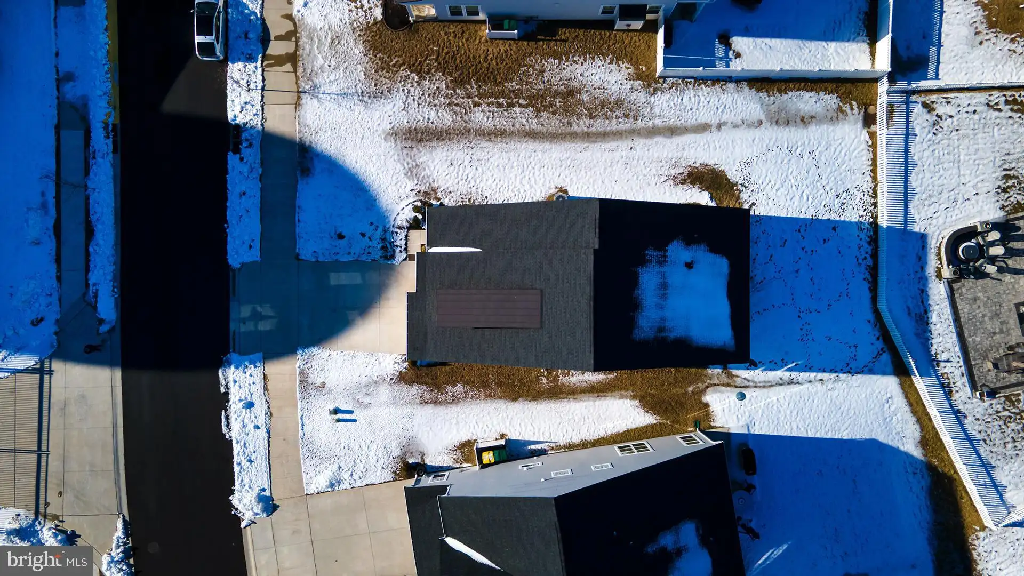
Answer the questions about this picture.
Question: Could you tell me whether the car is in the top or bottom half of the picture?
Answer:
top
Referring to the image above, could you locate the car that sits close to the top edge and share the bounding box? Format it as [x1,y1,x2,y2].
[194,0,231,61]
